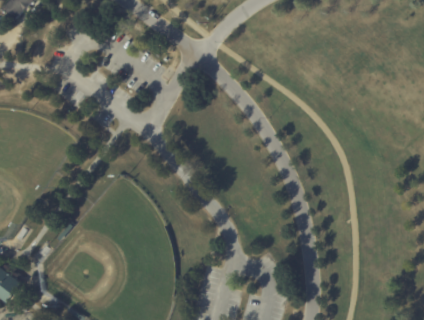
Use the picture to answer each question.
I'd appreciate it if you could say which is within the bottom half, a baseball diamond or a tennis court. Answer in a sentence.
The one visible within the bottom half is a baseball diamond.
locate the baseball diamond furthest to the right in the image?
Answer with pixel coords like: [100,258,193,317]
[48,176,176,320]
